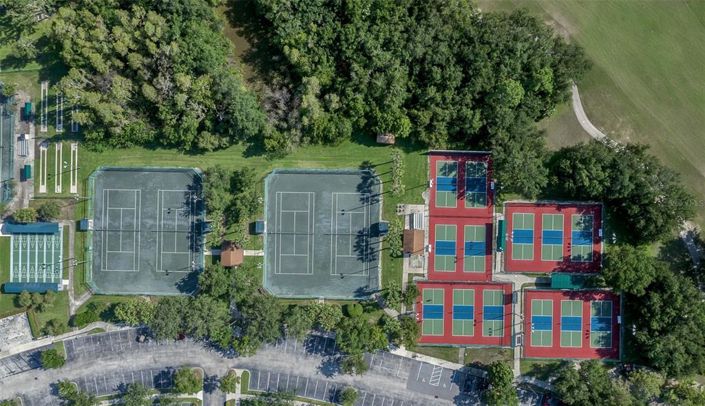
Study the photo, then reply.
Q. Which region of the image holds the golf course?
top right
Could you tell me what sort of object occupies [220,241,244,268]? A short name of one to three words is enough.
building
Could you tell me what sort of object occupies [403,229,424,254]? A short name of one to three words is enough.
building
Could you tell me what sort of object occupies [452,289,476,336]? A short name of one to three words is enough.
sports court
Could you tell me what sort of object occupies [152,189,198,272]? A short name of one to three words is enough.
tennis court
